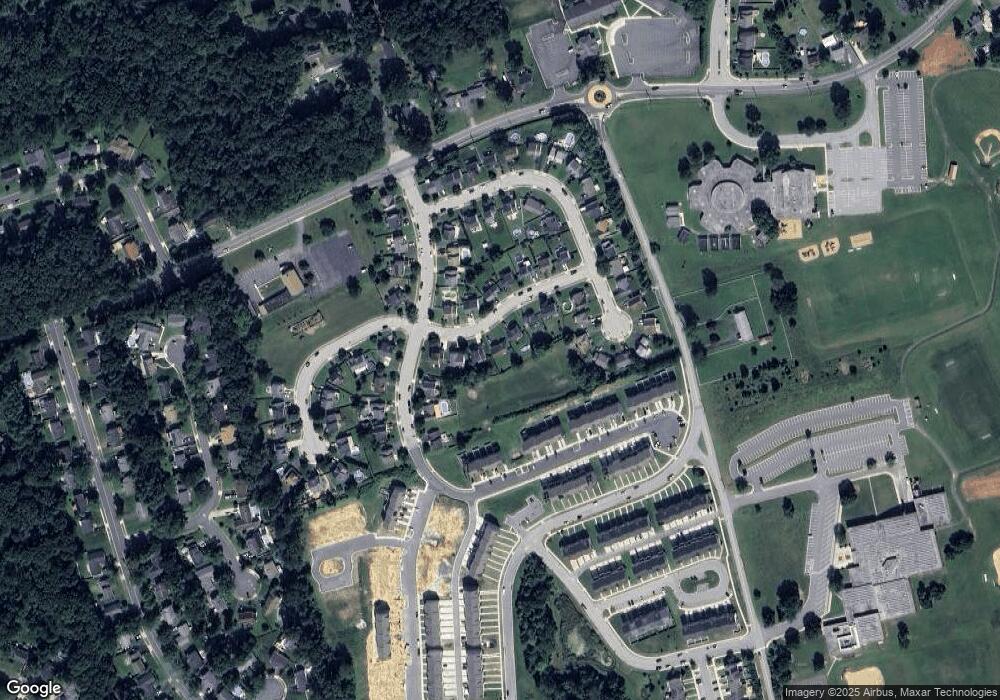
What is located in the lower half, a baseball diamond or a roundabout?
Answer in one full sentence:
There is a baseball diamond in the lower half.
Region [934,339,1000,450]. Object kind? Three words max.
sports field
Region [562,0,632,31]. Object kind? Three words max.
building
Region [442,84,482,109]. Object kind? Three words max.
house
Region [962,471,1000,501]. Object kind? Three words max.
baseball field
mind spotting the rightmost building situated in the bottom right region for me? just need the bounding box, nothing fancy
[823,492,952,660]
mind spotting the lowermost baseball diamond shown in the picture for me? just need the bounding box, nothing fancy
[843,666,884,700]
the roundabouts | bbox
[577,78,622,122]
